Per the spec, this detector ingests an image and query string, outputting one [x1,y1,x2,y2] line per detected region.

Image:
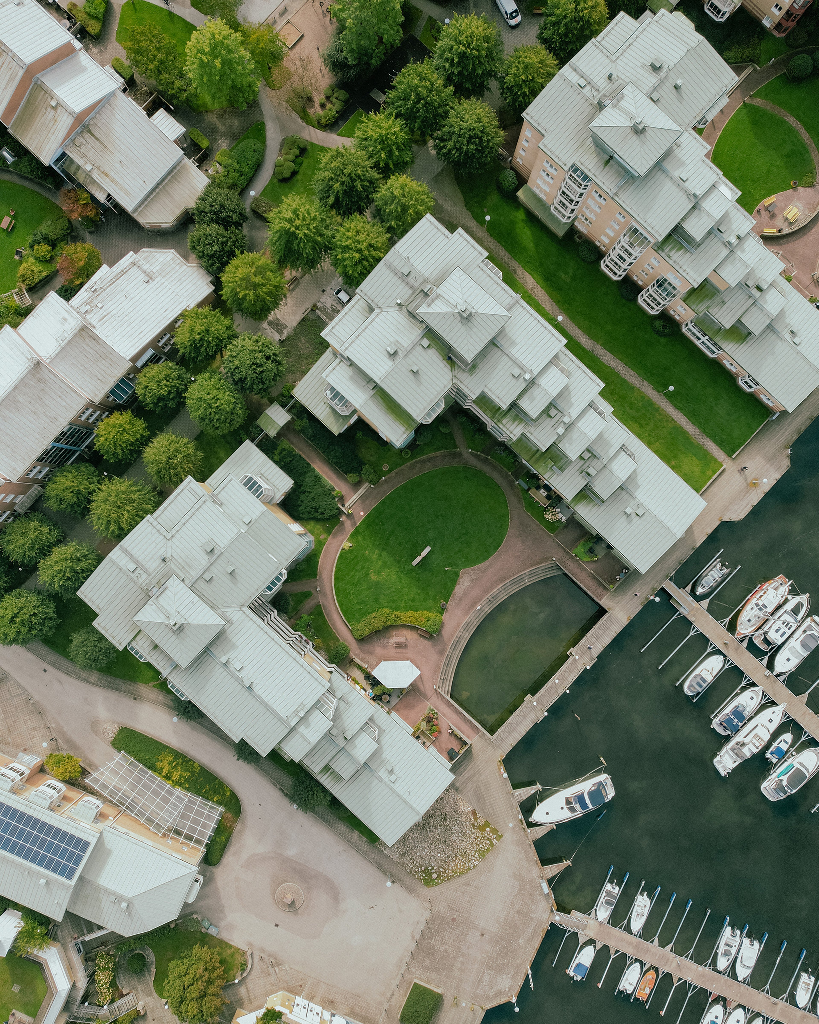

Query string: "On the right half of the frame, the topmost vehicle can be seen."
[495,0,520,28]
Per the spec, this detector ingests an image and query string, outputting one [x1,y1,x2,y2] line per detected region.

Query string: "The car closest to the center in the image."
[333,287,353,308]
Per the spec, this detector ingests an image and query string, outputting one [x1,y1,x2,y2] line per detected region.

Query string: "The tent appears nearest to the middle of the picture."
[371,658,421,688]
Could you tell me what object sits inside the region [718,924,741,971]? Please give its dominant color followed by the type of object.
white boat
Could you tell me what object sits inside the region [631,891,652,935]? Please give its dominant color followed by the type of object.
white boat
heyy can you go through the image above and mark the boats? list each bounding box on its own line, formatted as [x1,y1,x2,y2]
[764,734,794,764]
[631,891,652,935]
[635,969,657,1003]
[751,1017,765,1024]
[718,924,741,971]
[708,704,788,779]
[735,935,761,981]
[773,608,819,676]
[530,772,616,821]
[722,1007,745,1024]
[696,559,732,596]
[617,962,642,995]
[569,946,596,983]
[756,745,819,804]
[680,656,725,701]
[749,595,811,652]
[697,1003,725,1024]
[735,575,792,636]
[709,687,764,740]
[796,969,817,1009]
[599,881,621,922]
